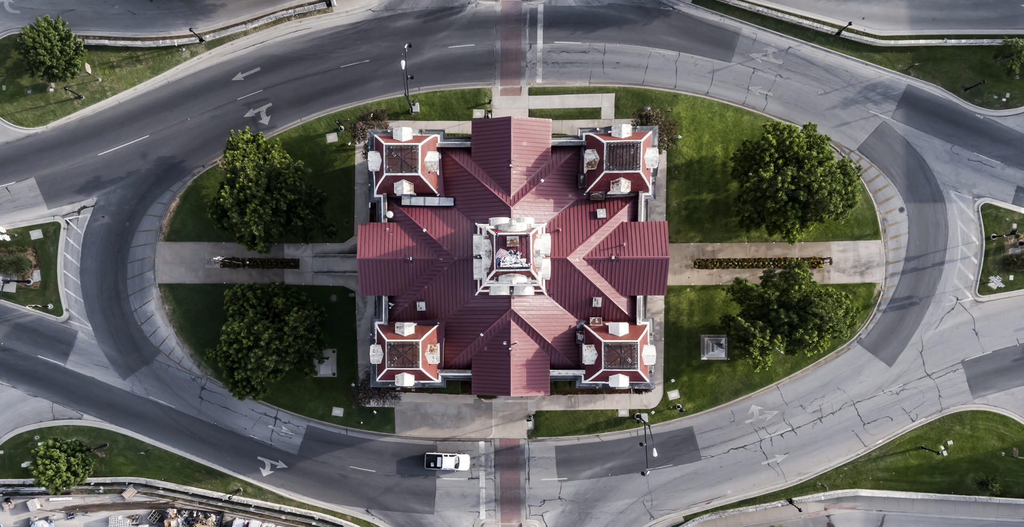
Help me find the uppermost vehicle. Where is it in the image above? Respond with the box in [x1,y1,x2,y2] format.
[423,453,470,472]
